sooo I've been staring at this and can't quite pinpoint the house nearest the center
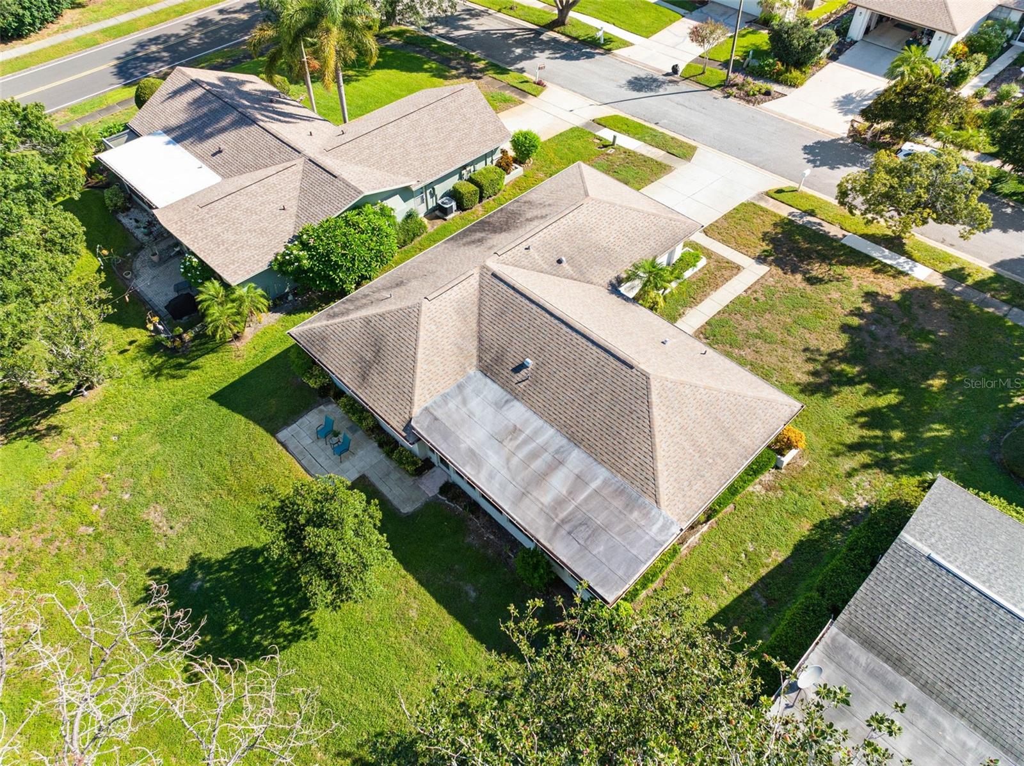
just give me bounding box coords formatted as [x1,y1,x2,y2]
[284,161,810,616]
